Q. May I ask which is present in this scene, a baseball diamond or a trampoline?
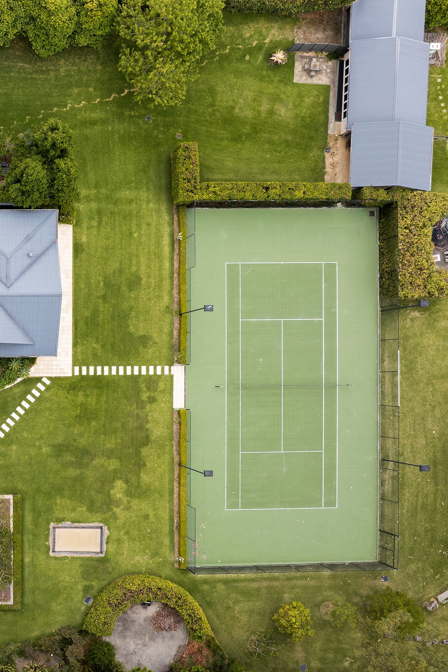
trampoline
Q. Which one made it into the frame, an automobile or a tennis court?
tennis court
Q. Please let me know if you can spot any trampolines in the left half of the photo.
Yes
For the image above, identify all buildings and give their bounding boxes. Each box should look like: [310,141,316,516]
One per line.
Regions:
[0,208,64,358]
[339,0,435,191]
